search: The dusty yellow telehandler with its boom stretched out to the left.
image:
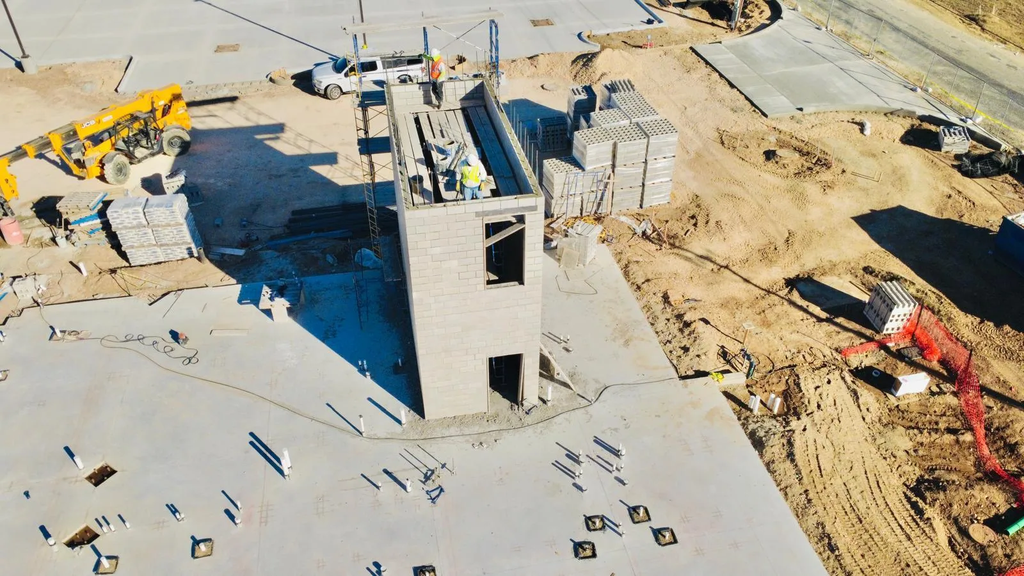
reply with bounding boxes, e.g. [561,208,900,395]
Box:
[0,82,195,224]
